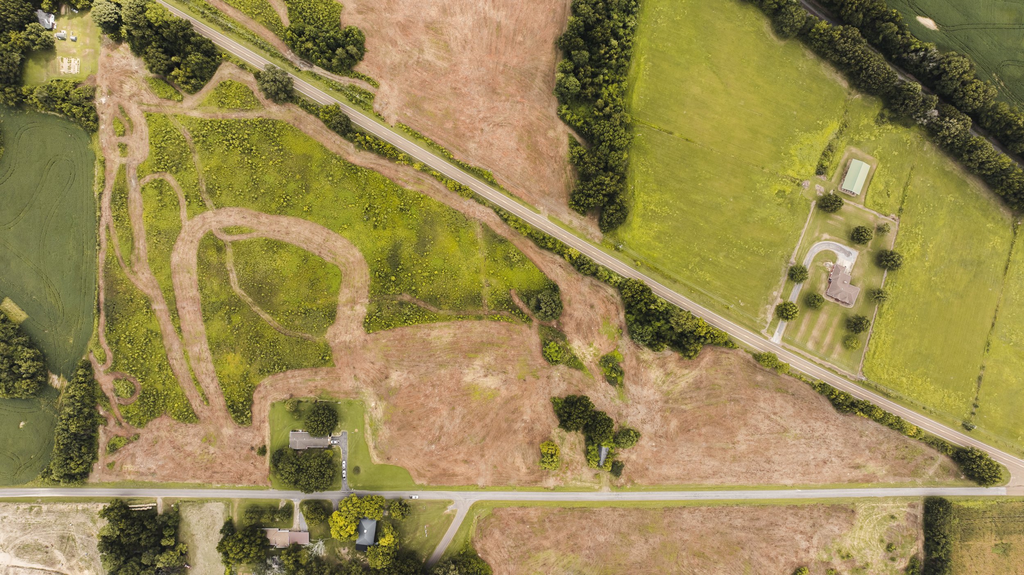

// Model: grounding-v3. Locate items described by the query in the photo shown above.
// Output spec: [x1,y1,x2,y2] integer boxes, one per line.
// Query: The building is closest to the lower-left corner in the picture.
[260,528,290,549]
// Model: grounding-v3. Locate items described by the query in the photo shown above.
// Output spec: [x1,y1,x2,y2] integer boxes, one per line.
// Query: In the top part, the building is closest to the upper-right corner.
[841,159,870,195]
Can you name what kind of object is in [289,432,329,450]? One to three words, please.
house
